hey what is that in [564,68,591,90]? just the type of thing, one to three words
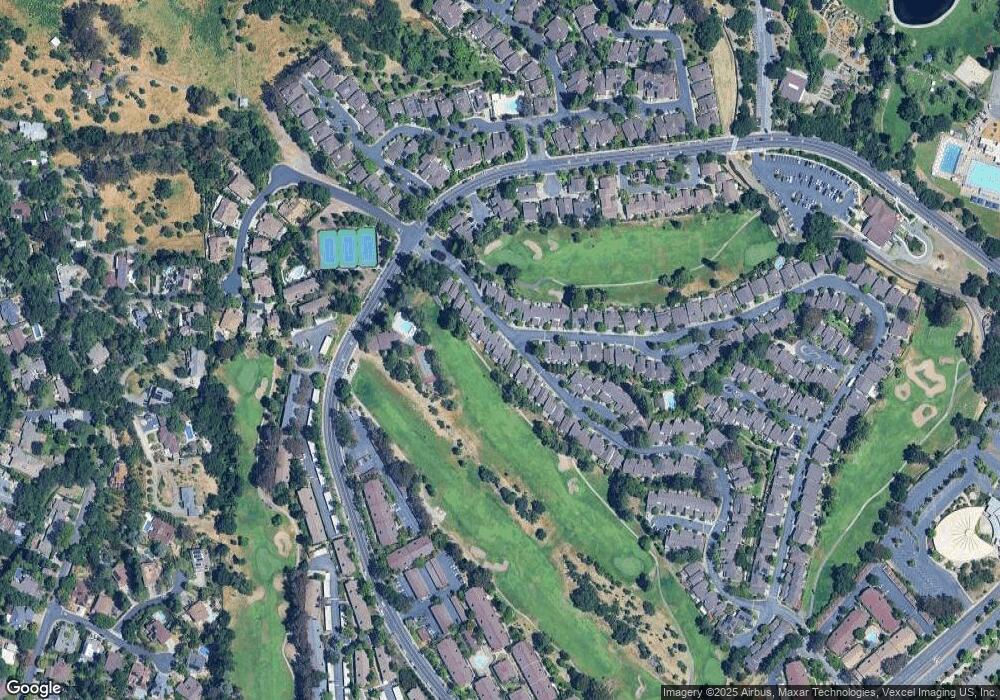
house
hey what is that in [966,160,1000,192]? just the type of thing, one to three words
swimming pool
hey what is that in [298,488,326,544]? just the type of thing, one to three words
building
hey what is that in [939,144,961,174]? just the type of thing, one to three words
swimming pool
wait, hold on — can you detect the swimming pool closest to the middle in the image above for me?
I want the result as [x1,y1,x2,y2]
[393,312,416,338]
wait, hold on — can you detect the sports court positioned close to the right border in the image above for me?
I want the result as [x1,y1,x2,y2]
[954,57,991,87]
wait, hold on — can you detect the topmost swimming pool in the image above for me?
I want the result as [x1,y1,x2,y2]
[492,92,524,119]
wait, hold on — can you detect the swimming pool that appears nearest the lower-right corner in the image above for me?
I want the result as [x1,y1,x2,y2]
[863,625,883,647]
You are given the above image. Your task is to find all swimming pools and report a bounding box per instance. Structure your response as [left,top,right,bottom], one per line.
[153,611,166,624]
[143,515,153,530]
[939,144,961,174]
[393,312,416,338]
[492,92,524,119]
[468,647,494,675]
[286,266,306,279]
[774,256,785,269]
[663,391,678,411]
[32,322,44,340]
[184,419,196,442]
[863,625,883,647]
[966,160,1000,192]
